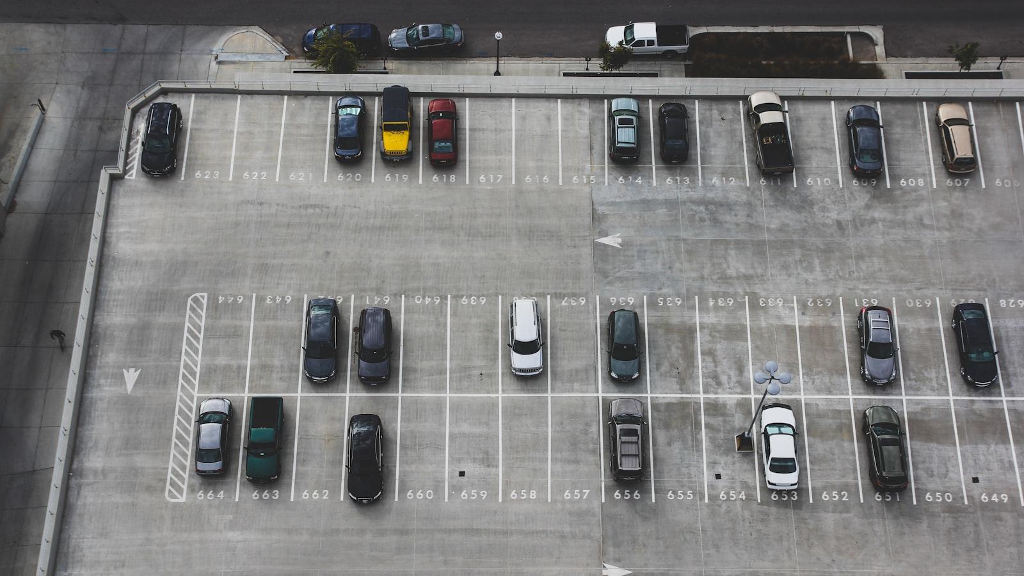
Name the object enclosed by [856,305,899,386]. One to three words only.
car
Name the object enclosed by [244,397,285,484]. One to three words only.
truck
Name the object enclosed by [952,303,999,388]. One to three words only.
car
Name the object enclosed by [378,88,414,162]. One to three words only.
vehicle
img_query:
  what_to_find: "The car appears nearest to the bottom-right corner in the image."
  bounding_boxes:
[861,405,908,491]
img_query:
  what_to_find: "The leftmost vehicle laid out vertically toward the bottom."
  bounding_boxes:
[195,397,233,475]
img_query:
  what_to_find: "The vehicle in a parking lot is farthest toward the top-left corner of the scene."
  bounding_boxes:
[141,101,183,175]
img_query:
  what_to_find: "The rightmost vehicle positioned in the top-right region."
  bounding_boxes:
[936,104,978,173]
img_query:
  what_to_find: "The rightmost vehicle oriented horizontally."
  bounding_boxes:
[605,24,689,58]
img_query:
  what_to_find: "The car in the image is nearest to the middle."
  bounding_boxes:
[507,299,544,377]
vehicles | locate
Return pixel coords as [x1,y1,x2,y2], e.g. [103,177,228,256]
[426,98,459,165]
[301,299,340,384]
[378,88,414,162]
[141,101,183,175]
[657,102,691,164]
[388,23,464,57]
[195,397,233,475]
[749,93,794,176]
[507,299,544,377]
[244,397,285,484]
[605,24,689,58]
[861,405,908,491]
[332,95,367,162]
[758,403,799,490]
[856,305,899,386]
[840,105,882,177]
[608,398,648,481]
[608,99,643,164]
[355,307,393,385]
[344,413,385,504]
[606,307,643,384]
[952,303,999,388]
[936,104,978,173]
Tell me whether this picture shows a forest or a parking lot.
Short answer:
parking lot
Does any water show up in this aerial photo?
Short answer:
No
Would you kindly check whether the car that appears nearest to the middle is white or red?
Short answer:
white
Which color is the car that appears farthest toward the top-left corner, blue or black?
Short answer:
black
